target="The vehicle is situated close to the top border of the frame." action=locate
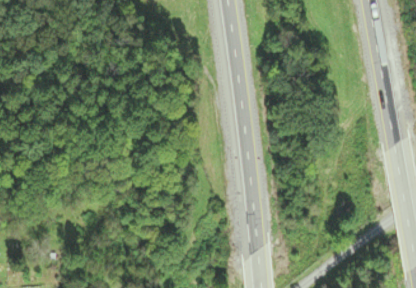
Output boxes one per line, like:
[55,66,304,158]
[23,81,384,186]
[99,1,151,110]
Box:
[371,2,388,67]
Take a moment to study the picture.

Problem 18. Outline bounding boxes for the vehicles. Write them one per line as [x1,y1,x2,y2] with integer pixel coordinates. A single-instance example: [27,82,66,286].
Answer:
[379,90,386,108]
[371,2,388,67]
